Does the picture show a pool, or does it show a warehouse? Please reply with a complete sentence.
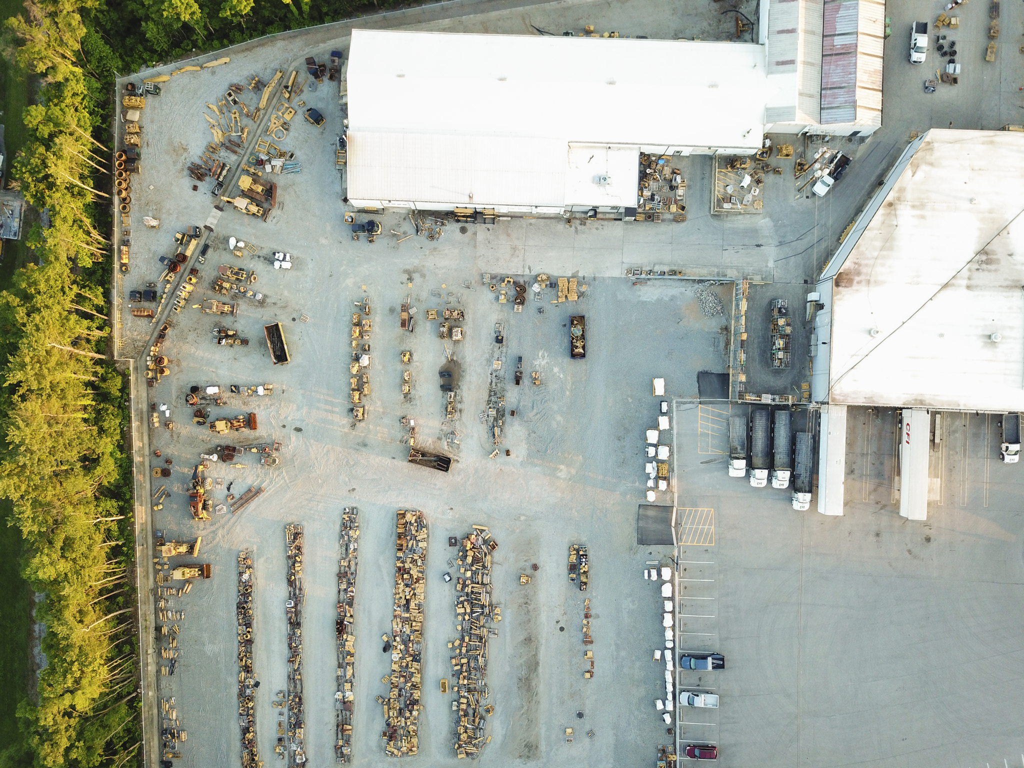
The one in the frame is a warehouse.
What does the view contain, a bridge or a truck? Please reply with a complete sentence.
There is a truck in the scene.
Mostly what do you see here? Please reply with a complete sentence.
For the most part, this view shows paved ground.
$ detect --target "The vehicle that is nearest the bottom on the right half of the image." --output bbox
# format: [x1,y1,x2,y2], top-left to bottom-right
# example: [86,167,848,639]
[684,743,719,762]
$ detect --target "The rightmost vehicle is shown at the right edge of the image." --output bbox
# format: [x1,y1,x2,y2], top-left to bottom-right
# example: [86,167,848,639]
[991,414,1021,462]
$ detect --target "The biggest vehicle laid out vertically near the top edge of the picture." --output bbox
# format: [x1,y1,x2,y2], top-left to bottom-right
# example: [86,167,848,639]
[908,21,930,66]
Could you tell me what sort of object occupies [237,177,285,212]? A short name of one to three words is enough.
work vehicle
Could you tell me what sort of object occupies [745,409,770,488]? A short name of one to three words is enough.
truck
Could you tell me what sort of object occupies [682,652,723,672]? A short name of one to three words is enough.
vehicle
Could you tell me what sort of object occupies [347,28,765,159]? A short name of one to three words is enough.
warehouse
